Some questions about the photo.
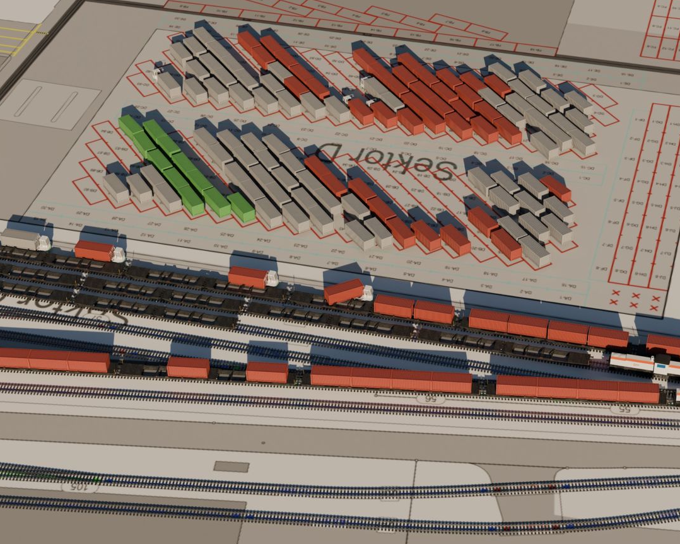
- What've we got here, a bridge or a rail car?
rail car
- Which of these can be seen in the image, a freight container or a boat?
freight container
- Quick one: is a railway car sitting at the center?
Yes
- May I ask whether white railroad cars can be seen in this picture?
Yes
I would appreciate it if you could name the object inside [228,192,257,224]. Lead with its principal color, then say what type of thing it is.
green shipping container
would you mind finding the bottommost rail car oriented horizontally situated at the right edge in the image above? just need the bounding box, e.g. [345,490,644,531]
[481,381,667,404]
